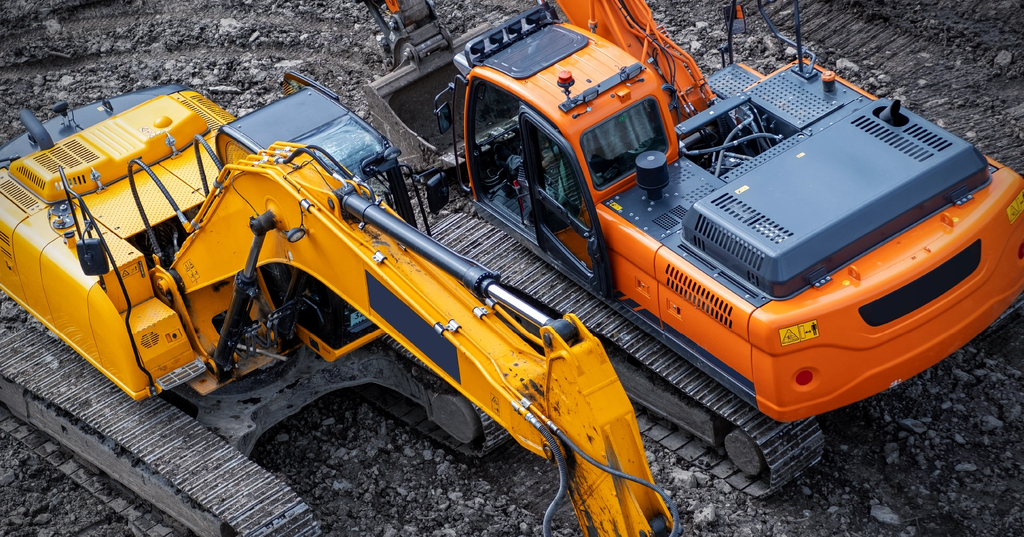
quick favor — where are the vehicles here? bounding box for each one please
[364,0,1020,497]
[0,72,684,537]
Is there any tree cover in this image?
No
